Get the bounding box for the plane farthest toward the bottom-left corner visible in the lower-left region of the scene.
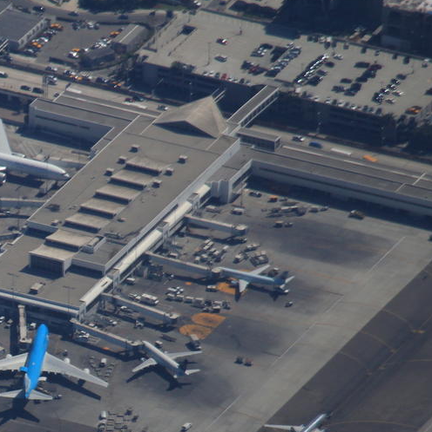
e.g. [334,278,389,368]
[0,326,110,404]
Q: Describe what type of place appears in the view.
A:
airport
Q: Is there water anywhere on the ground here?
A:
No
